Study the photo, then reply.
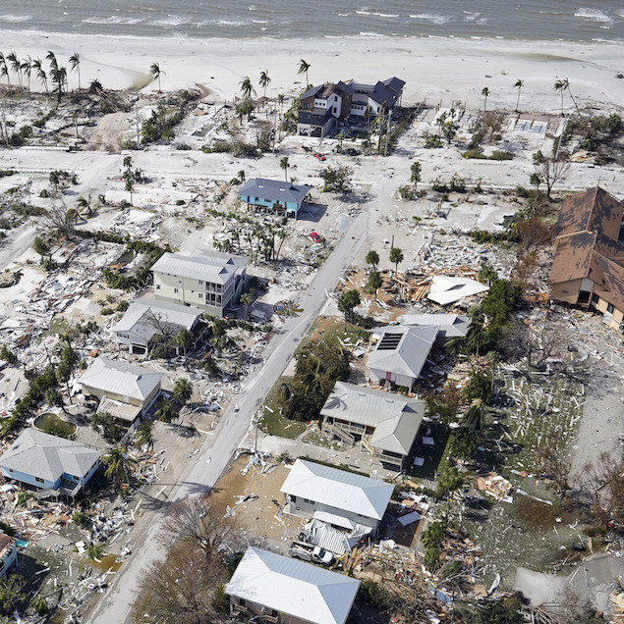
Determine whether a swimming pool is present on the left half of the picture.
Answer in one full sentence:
Yes, on the left half of the picture there is a swimming pool.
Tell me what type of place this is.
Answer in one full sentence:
The area seen from above is a residential area.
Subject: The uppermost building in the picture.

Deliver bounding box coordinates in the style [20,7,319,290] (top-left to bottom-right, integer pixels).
[297,74,408,136]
